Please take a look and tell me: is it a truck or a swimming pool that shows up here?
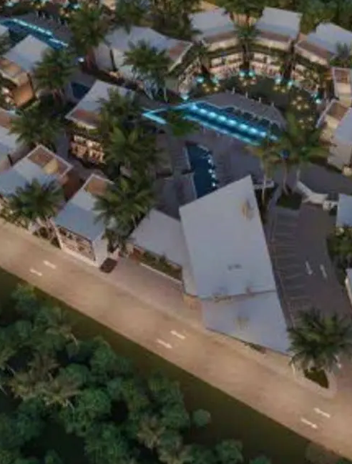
swimming pool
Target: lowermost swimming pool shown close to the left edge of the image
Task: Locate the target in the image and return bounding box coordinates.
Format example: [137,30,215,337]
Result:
[0,19,72,55]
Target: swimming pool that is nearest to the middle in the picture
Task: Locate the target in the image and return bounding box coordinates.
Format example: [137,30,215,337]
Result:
[187,144,220,200]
